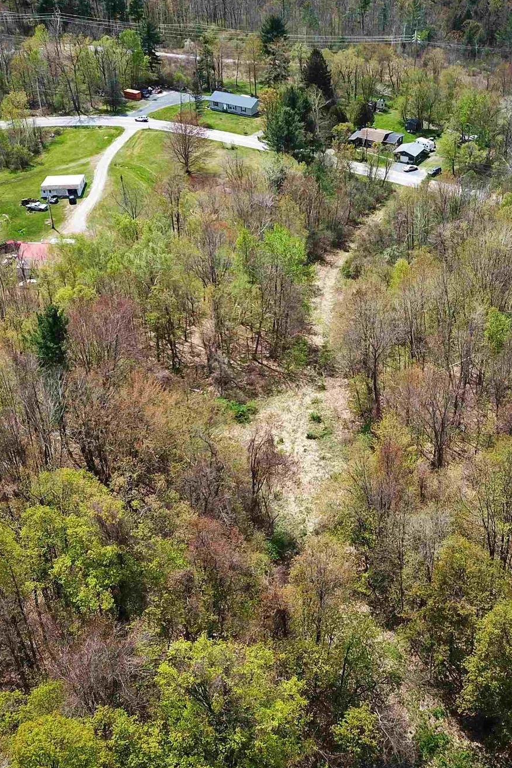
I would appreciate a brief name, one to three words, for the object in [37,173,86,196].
building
